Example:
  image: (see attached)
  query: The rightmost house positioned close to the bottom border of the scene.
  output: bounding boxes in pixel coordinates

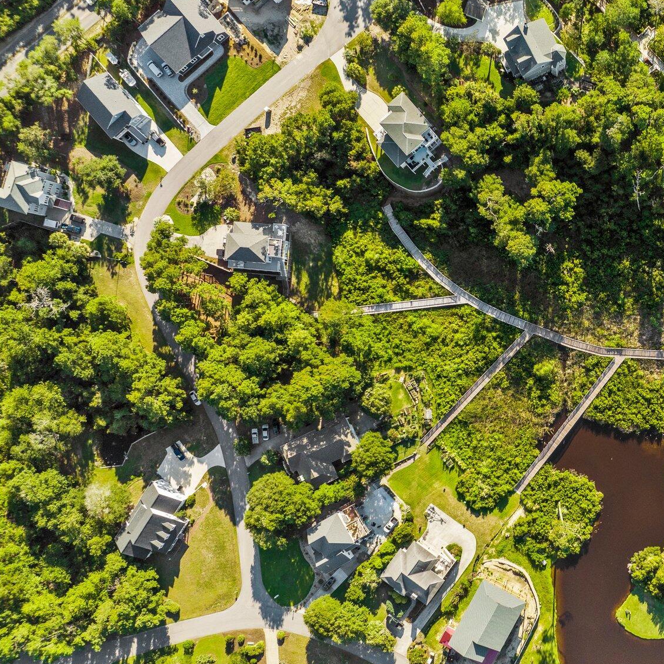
[440,566,527,664]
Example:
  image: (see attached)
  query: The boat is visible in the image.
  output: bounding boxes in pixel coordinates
[117,67,132,85]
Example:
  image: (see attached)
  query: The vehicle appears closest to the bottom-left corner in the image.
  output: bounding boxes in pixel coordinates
[168,443,184,461]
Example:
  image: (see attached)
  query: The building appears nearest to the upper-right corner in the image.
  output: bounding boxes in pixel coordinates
[500,20,566,82]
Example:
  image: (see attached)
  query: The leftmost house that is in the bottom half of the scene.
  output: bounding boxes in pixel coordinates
[116,482,189,555]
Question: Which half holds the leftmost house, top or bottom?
top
